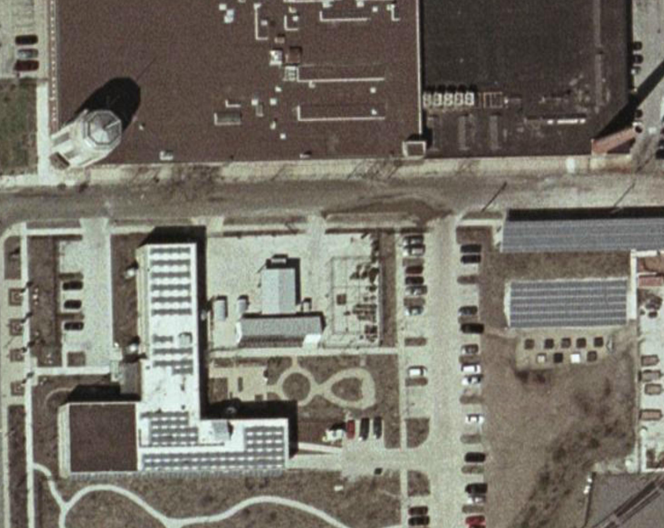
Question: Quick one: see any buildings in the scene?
Yes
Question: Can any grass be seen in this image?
Yes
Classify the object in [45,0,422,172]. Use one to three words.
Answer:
warehouse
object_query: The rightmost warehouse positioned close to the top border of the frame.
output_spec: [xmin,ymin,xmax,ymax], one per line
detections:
[418,0,631,161]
